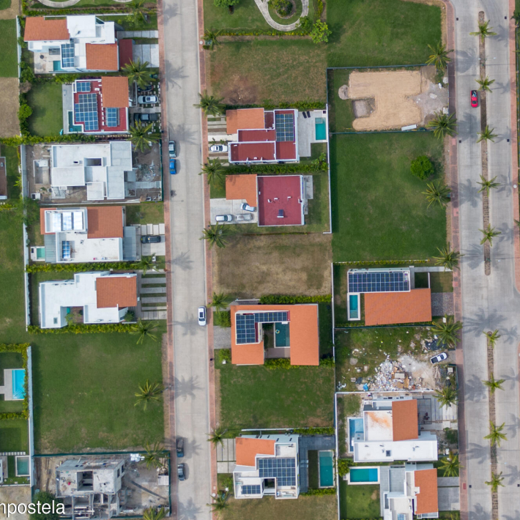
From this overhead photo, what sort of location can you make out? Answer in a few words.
residential area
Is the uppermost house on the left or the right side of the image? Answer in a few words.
left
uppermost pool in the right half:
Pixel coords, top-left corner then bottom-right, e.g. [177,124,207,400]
[314,117,326,141]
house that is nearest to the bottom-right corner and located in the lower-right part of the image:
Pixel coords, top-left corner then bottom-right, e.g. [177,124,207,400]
[384,460,439,520]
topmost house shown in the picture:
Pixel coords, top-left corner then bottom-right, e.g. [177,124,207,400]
[24,15,135,73]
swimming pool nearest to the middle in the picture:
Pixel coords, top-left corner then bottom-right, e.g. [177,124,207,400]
[275,323,291,348]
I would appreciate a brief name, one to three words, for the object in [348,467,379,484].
swimming pool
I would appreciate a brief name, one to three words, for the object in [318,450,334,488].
swimming pool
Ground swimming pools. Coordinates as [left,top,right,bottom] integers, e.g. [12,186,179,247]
[348,418,364,454]
[34,247,45,261]
[348,293,360,321]
[348,467,379,484]
[314,117,326,141]
[275,323,291,348]
[318,450,334,488]
[68,110,82,132]
[53,60,65,71]
[10,369,23,401]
